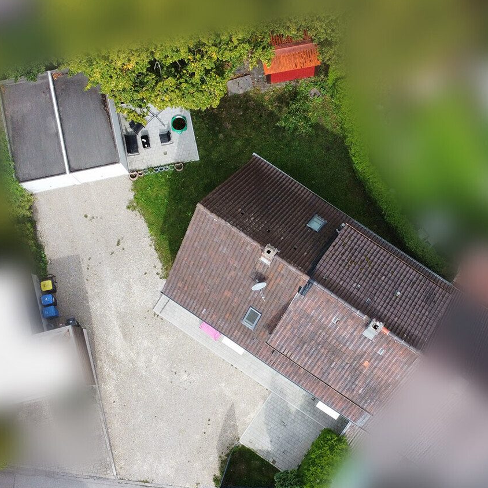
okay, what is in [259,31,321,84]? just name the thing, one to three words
shed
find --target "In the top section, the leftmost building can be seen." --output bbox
[0,64,130,193]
